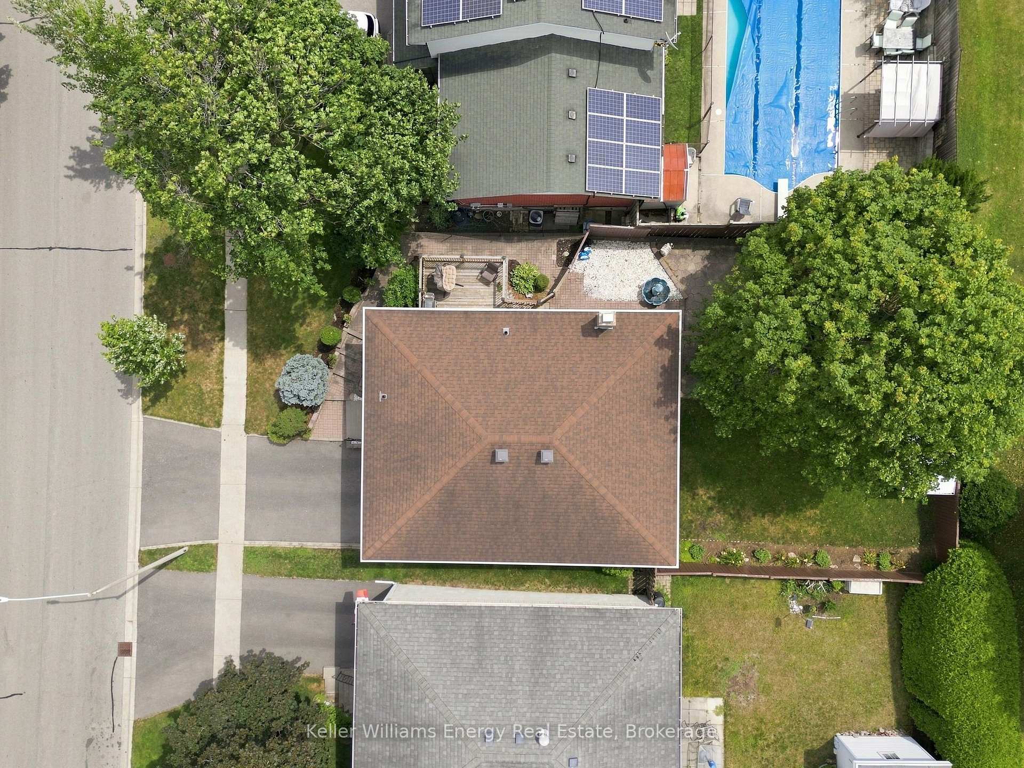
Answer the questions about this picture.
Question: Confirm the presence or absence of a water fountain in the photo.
Yes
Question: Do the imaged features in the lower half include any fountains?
No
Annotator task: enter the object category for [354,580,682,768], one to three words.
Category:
house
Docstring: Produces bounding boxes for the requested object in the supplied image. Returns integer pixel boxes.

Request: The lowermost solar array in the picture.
[586,88,661,200]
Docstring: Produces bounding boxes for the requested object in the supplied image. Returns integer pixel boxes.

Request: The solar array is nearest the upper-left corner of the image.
[421,0,503,27]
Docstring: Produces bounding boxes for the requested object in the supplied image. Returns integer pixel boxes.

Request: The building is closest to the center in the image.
[360,307,682,567]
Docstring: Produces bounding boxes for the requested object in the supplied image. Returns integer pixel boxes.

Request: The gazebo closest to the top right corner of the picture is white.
[851,56,946,140]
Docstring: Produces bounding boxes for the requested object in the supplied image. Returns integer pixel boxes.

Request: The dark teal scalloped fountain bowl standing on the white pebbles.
[642,277,670,306]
